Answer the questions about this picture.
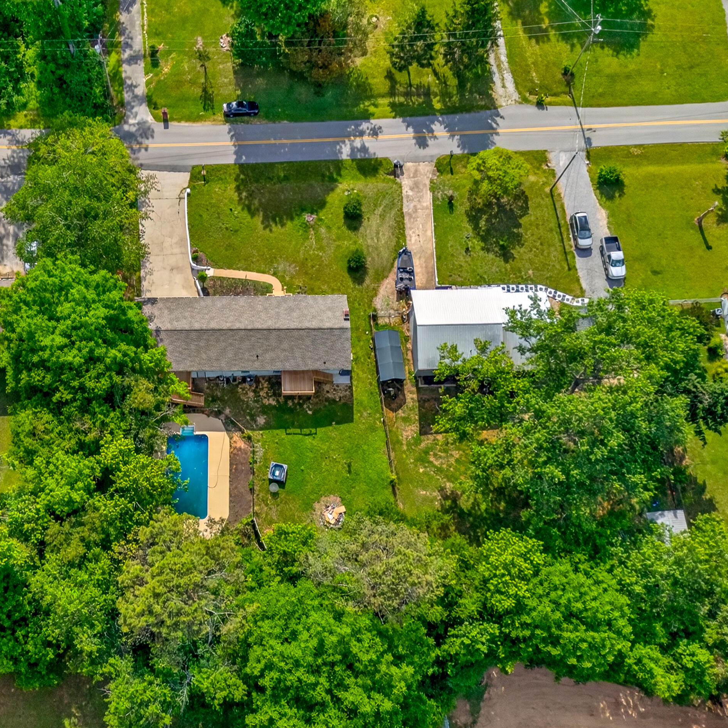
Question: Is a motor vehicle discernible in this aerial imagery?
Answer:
Yes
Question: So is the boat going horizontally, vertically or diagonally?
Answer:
vertically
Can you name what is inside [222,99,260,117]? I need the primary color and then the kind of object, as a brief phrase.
black car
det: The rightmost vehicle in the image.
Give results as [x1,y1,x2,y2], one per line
[597,236,628,281]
